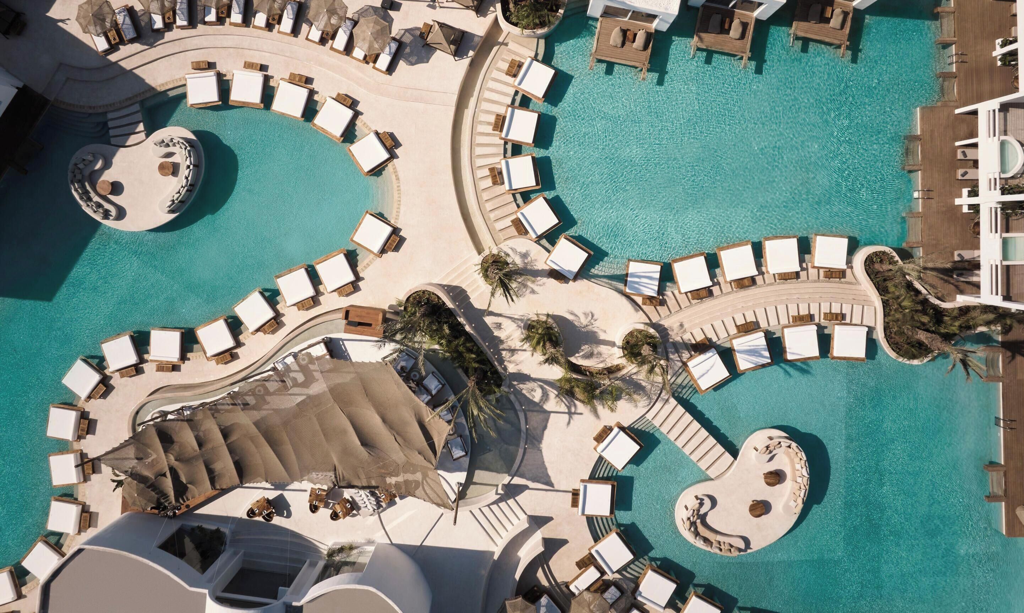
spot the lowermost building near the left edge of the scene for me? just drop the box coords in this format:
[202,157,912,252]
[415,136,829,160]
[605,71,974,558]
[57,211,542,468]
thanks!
[36,516,237,613]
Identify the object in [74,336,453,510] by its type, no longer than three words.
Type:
tent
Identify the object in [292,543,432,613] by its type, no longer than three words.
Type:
building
